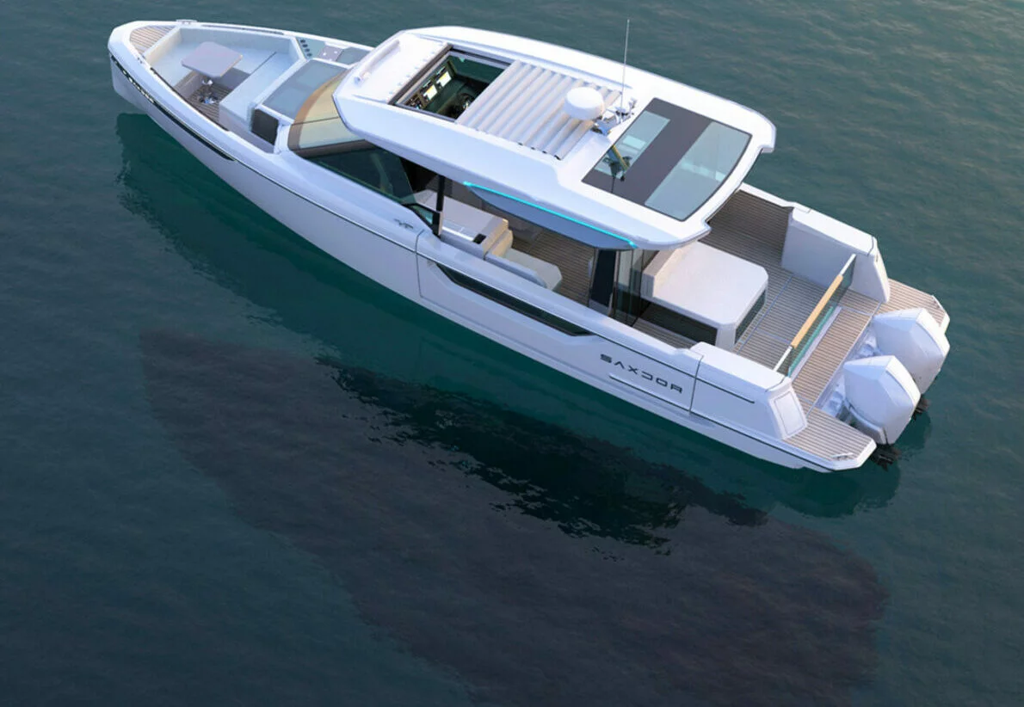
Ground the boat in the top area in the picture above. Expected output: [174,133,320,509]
[103,17,954,473]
